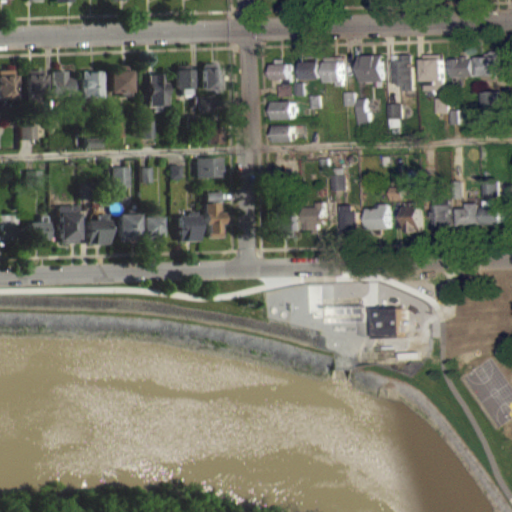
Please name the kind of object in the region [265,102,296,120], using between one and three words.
house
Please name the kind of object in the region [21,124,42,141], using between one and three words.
building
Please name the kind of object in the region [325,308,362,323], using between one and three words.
building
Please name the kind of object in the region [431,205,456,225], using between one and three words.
house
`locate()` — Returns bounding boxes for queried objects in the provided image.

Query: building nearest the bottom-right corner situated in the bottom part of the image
[370,306,402,338]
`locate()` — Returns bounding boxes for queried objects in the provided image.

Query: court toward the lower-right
[458,356,512,432]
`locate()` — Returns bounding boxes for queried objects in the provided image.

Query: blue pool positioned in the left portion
[110,202,126,216]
